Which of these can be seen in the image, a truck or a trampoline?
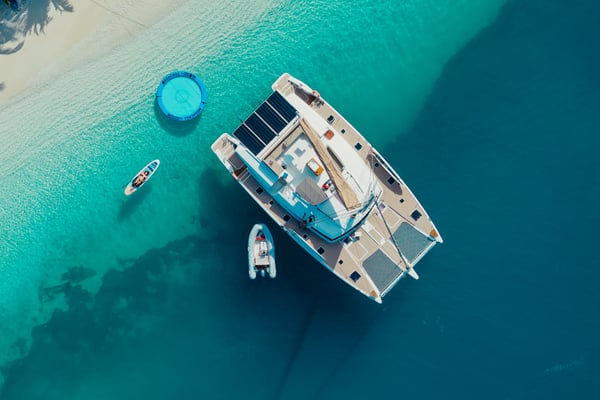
trampoline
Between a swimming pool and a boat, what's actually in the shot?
boat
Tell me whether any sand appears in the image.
Yes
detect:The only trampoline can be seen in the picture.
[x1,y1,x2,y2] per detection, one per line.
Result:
[154,71,208,124]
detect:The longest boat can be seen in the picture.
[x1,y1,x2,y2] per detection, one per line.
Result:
[213,75,441,303]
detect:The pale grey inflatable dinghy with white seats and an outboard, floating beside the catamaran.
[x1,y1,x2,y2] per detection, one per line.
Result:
[248,222,277,280]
